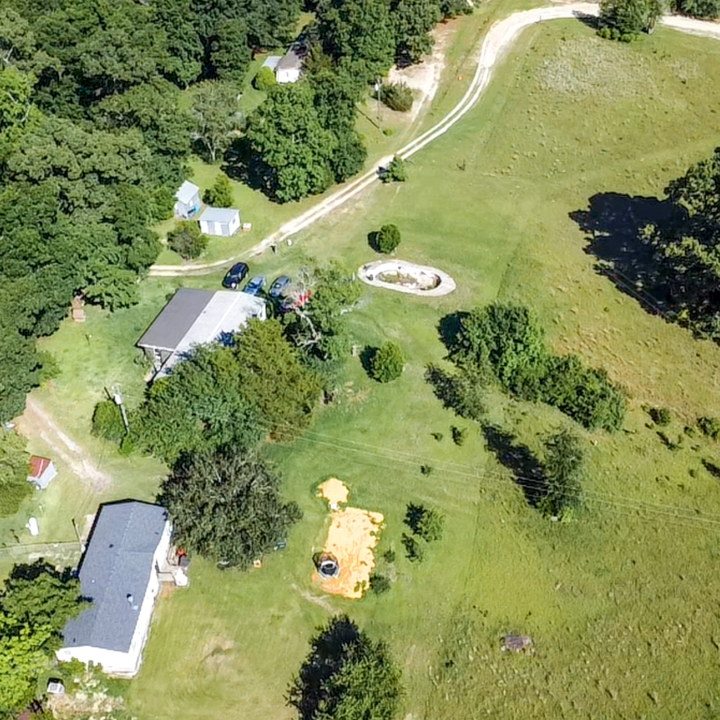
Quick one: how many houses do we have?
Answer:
3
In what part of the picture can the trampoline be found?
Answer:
bottom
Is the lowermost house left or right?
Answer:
left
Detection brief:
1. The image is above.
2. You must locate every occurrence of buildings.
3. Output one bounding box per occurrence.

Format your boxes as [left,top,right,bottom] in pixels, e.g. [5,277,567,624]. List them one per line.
[140,278,264,398]
[199,207,234,237]
[266,44,311,87]
[58,502,171,678]
[175,180,202,217]
[26,461,59,491]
